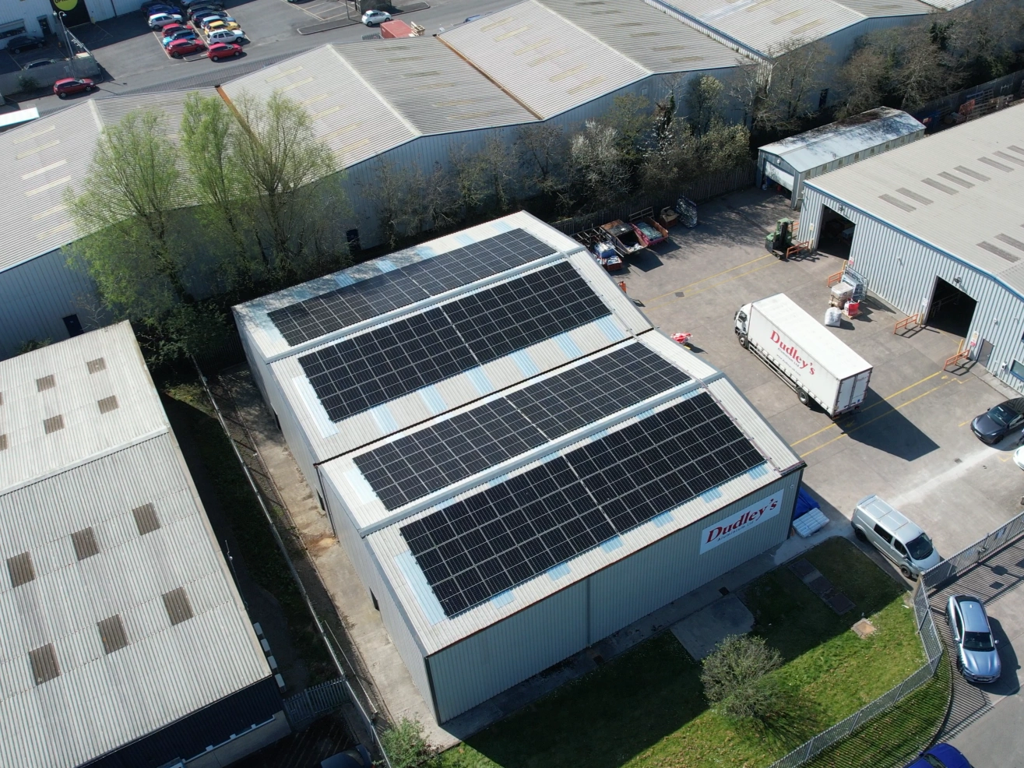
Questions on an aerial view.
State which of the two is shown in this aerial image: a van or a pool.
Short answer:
van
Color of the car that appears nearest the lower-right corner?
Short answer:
blue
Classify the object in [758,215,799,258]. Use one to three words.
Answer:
work vehicle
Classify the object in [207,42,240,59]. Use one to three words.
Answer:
car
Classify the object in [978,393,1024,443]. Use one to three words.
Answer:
car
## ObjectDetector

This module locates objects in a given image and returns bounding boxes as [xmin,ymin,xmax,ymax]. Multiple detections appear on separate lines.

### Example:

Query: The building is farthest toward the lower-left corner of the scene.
[0,320,291,768]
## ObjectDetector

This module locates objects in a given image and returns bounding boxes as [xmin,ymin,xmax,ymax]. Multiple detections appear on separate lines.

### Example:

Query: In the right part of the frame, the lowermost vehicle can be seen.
[914,740,978,768]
